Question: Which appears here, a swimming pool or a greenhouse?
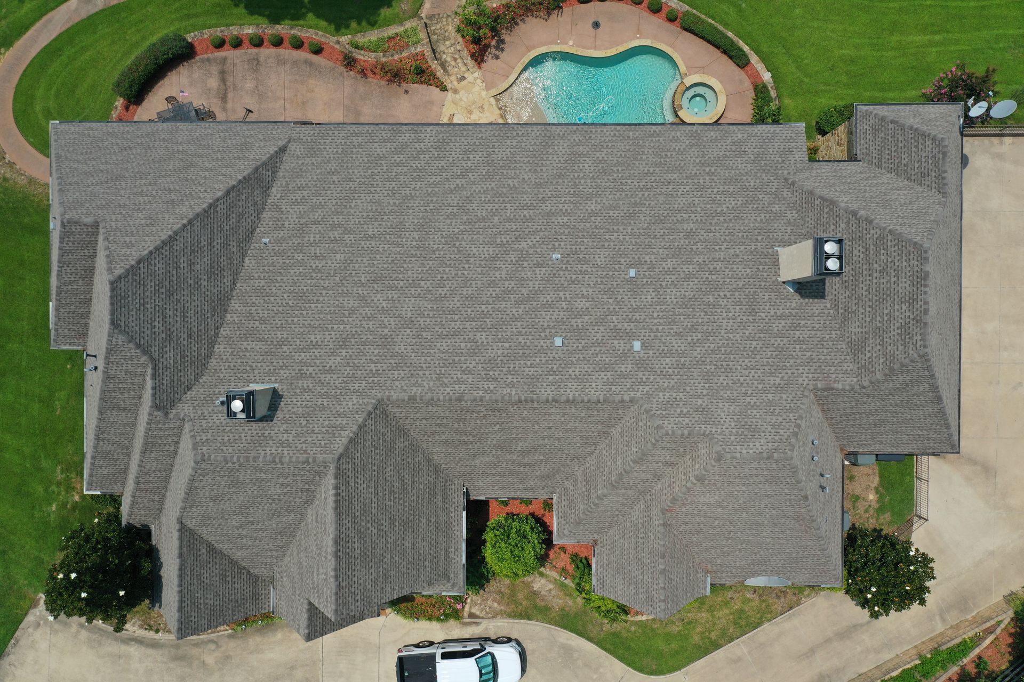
swimming pool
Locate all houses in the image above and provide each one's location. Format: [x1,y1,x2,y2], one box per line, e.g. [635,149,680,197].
[46,101,964,643]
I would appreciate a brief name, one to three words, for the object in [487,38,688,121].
swimming pool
